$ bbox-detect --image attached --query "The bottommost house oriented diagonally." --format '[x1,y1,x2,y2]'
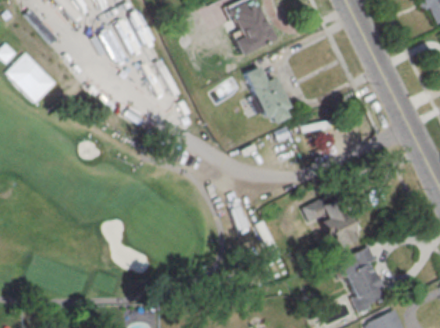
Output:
[302,199,366,246]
